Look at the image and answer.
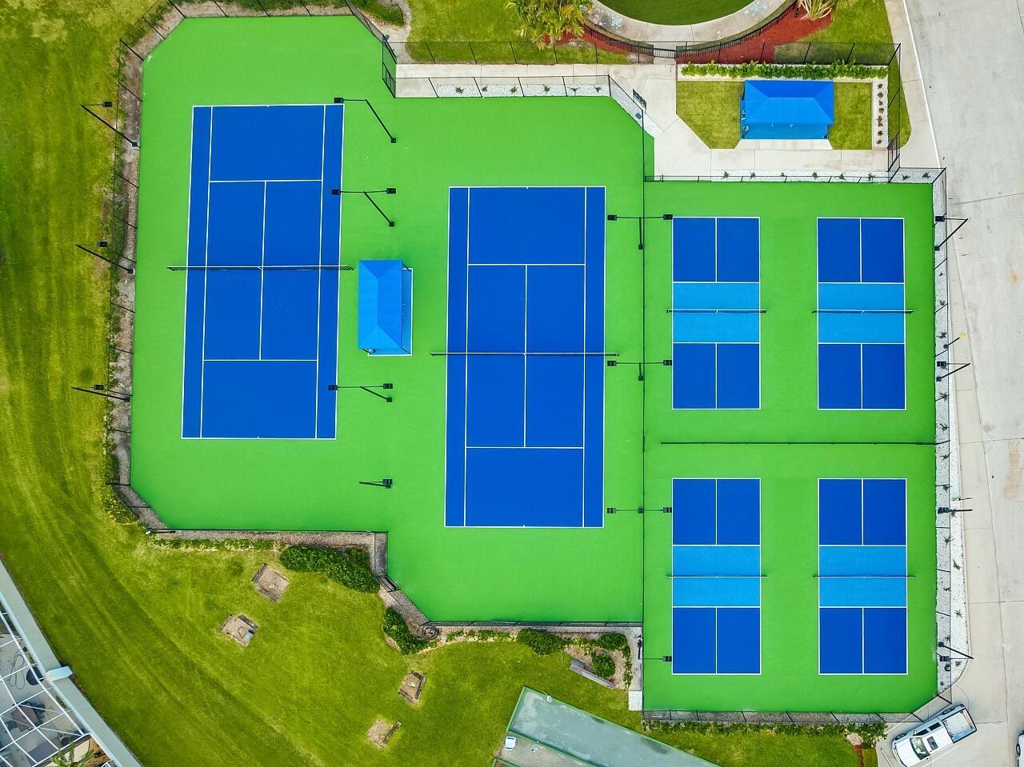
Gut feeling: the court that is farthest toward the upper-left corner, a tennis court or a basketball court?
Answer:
tennis court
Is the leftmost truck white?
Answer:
Yes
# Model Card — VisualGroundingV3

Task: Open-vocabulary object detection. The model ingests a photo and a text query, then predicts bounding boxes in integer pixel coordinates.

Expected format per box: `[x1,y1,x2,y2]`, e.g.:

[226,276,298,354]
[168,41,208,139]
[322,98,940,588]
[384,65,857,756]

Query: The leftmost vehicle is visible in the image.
[889,704,979,767]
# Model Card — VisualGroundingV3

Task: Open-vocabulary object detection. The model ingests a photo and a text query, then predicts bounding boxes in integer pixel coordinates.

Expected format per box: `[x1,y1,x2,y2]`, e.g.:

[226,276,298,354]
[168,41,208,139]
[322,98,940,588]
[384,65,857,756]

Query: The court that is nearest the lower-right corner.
[819,479,908,675]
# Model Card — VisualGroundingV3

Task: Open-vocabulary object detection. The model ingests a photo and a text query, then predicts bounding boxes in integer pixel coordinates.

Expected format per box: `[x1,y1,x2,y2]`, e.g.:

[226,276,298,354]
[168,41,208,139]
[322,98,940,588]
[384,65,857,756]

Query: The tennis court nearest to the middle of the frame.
[445,187,606,528]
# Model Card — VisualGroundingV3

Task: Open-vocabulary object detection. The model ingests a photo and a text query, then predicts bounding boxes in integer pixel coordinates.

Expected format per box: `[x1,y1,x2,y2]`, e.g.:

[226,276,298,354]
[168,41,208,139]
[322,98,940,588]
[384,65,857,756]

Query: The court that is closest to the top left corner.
[182,104,343,439]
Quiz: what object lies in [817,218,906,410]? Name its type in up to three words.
sports court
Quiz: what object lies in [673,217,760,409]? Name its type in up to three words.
sports court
